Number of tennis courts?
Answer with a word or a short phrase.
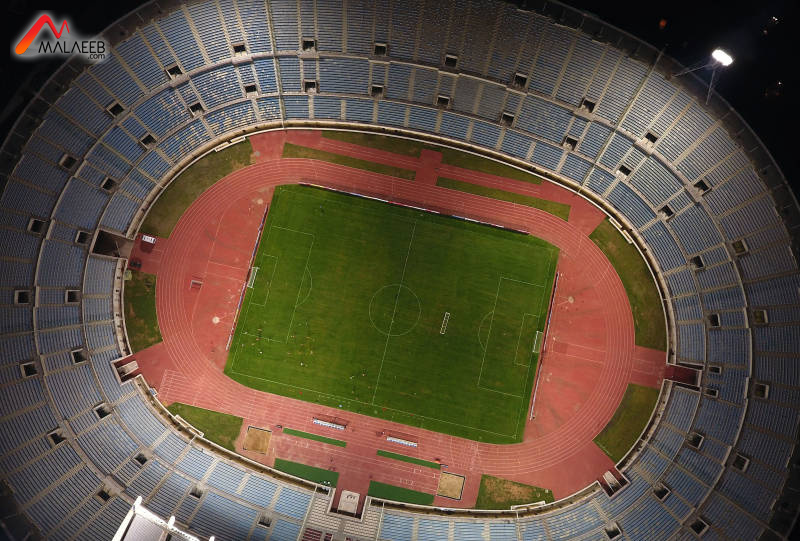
zero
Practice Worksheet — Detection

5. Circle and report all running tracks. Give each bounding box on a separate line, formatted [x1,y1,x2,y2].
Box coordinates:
[157,143,634,482]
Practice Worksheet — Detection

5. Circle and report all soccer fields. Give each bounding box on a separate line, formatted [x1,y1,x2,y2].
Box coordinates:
[224,185,559,442]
